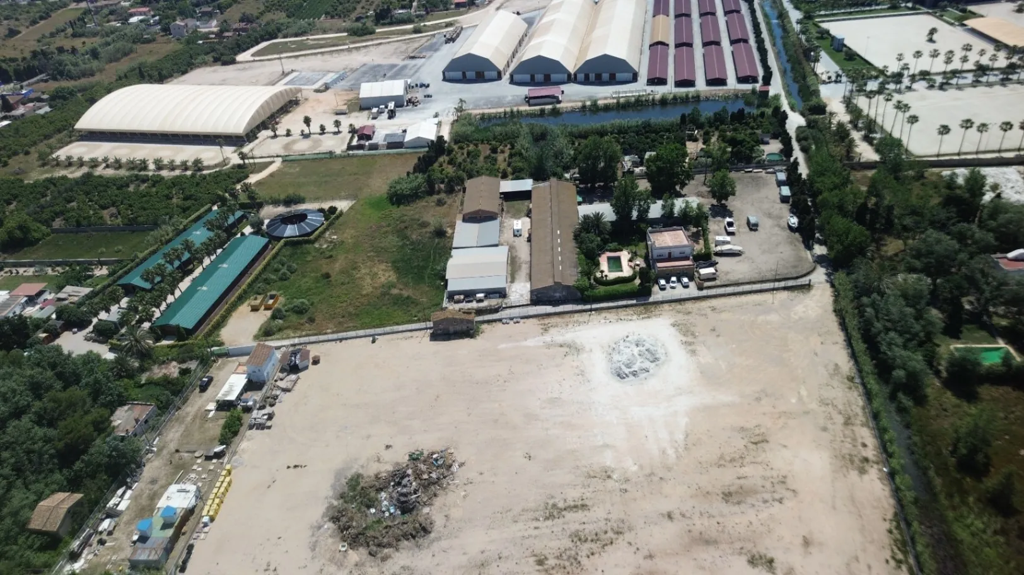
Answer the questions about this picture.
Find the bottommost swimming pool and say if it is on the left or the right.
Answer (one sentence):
It is on the right.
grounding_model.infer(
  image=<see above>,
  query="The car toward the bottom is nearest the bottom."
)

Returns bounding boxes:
[198,375,212,391]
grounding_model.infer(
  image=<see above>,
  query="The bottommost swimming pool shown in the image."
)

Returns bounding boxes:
[953,345,1016,366]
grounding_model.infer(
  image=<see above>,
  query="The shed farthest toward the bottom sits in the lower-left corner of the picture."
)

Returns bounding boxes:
[128,538,175,569]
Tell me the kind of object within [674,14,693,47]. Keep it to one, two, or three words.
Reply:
shed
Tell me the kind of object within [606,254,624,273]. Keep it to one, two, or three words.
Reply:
swimming pool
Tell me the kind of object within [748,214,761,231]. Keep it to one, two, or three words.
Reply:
vehicle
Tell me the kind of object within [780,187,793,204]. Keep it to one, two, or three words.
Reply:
vehicle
